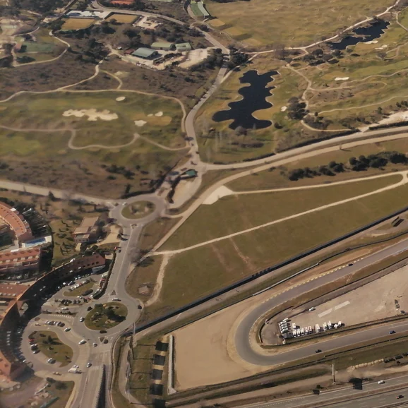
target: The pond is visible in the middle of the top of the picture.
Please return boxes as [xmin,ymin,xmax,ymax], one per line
[213,69,281,128]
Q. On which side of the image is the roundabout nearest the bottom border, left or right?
left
